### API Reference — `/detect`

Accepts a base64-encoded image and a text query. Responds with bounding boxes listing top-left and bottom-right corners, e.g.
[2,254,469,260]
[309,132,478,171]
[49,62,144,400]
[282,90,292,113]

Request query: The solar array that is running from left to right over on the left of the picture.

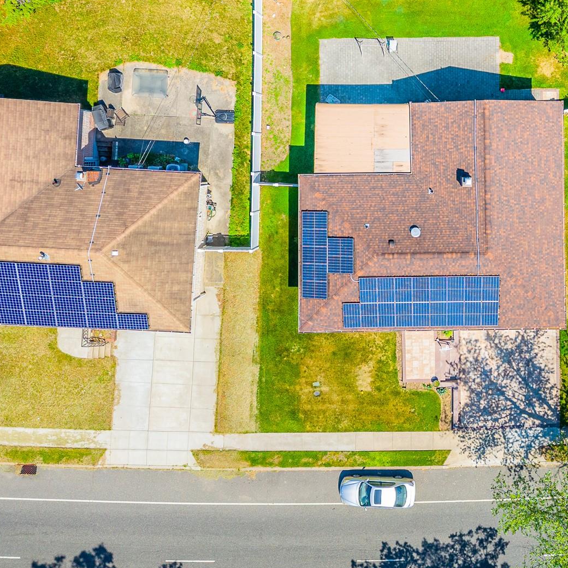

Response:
[0,262,150,329]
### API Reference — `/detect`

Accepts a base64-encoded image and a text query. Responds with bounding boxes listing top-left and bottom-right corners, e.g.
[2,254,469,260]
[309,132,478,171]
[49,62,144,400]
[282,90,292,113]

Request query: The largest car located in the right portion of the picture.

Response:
[340,471,416,511]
